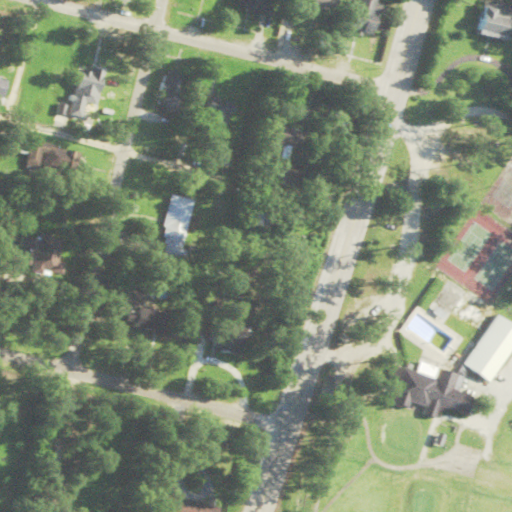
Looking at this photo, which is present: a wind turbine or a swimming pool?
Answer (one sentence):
The one in the frame is a swimming pool.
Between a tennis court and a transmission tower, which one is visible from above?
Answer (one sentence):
This aerial view contains a tennis court.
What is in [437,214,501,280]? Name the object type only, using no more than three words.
tennis court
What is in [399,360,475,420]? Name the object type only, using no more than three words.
building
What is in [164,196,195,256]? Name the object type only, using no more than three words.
house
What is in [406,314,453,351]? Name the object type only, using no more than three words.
swimming pool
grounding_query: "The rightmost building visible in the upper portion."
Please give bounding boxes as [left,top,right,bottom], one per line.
[476,6,512,38]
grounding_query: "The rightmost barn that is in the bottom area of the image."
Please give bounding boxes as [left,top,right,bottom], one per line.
[462,314,512,383]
